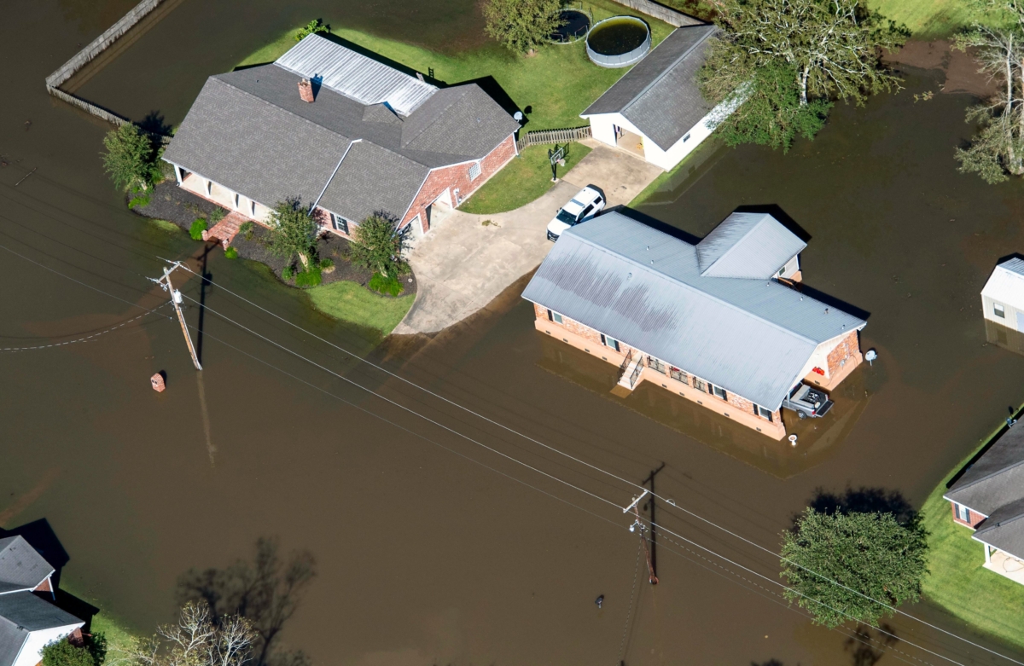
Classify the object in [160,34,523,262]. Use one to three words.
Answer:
house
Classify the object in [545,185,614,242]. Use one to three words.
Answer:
car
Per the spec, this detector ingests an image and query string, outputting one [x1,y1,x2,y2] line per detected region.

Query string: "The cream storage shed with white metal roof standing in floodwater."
[981,258,1024,335]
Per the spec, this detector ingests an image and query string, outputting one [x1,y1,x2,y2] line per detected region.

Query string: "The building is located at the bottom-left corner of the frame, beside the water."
[0,534,92,666]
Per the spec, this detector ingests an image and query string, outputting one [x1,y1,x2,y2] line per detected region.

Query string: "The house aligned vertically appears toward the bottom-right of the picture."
[943,415,1024,587]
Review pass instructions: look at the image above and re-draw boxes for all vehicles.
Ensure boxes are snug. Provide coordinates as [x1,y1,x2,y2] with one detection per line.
[545,185,614,242]
[783,382,834,420]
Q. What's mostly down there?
water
